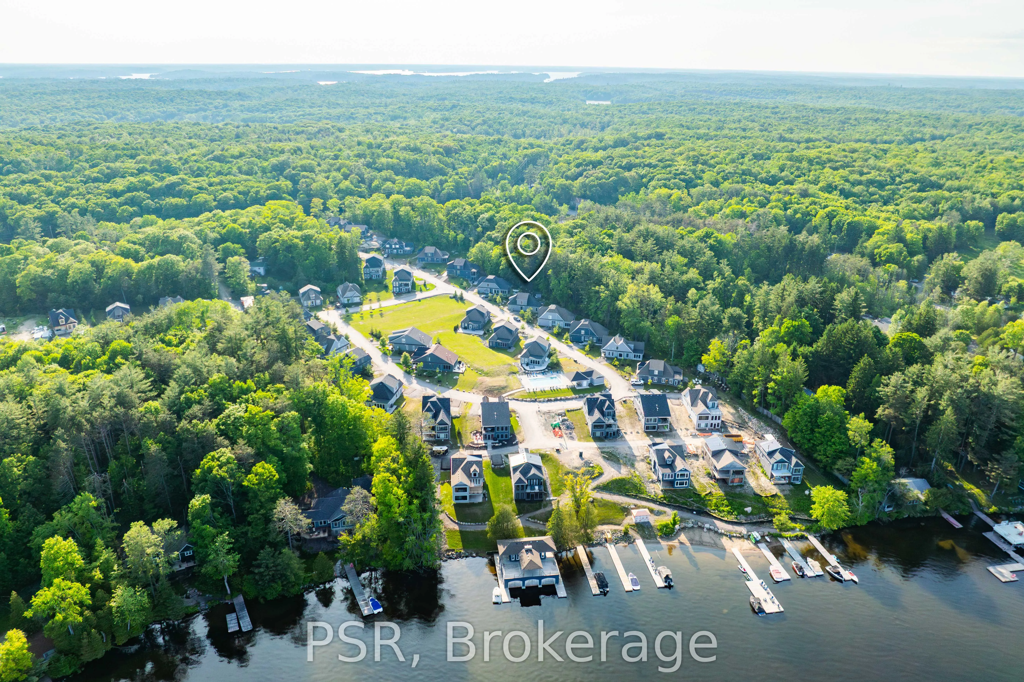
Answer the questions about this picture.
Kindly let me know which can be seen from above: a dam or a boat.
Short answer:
boat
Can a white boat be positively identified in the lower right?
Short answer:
Yes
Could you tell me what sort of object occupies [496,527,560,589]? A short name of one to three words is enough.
building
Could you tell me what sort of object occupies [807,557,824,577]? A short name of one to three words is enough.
boat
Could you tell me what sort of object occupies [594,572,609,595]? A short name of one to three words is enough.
boat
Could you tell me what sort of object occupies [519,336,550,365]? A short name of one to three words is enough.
house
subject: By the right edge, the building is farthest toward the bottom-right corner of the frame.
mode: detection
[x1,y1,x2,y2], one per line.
[992,519,1024,552]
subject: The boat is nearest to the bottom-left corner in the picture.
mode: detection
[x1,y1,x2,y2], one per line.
[369,597,382,615]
